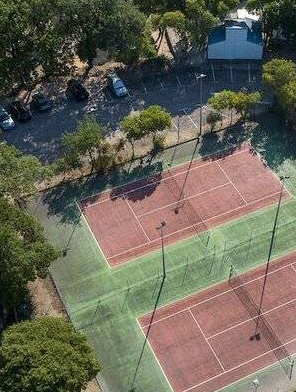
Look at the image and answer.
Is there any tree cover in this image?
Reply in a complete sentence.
Yes, there is tree cover in the image.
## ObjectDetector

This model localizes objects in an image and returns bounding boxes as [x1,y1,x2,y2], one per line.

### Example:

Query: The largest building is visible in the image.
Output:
[208,18,264,59]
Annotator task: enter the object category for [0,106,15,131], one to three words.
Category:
car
